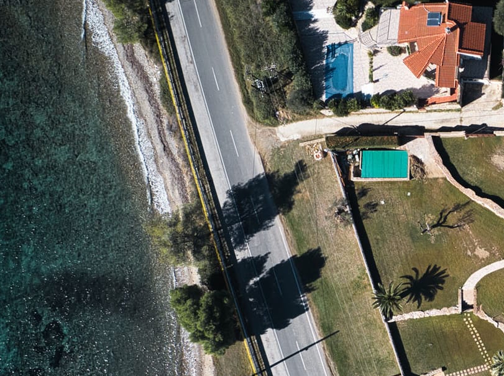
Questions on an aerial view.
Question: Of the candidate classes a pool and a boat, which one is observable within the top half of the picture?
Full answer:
What appears within the top half of the picture is a pool.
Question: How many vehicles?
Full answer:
Not a single vehicle can be seen.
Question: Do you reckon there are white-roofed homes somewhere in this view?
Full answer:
No, the picture doesn't show any white-roofed home.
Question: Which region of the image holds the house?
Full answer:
The house sits in the top right section of the image.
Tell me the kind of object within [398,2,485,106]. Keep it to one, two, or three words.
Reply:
house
